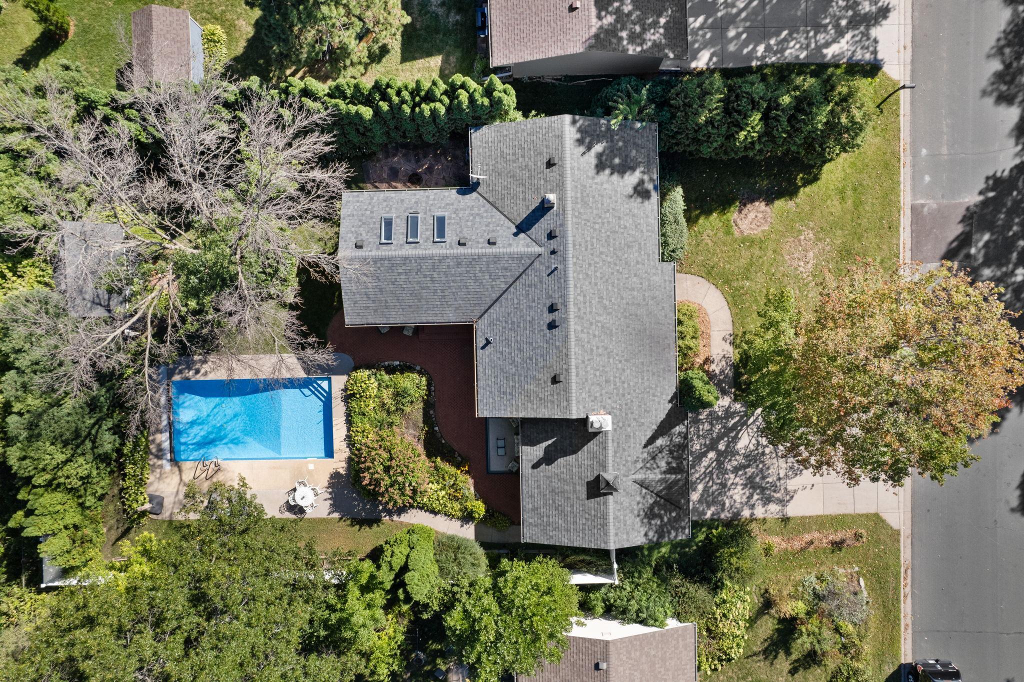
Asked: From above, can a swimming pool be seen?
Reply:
Yes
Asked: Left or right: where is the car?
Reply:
right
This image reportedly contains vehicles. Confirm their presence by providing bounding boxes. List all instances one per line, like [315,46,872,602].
[914,655,961,682]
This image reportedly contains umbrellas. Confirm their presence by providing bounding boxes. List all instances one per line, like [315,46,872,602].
[133,495,163,515]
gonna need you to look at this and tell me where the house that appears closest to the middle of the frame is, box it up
[341,115,693,549]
